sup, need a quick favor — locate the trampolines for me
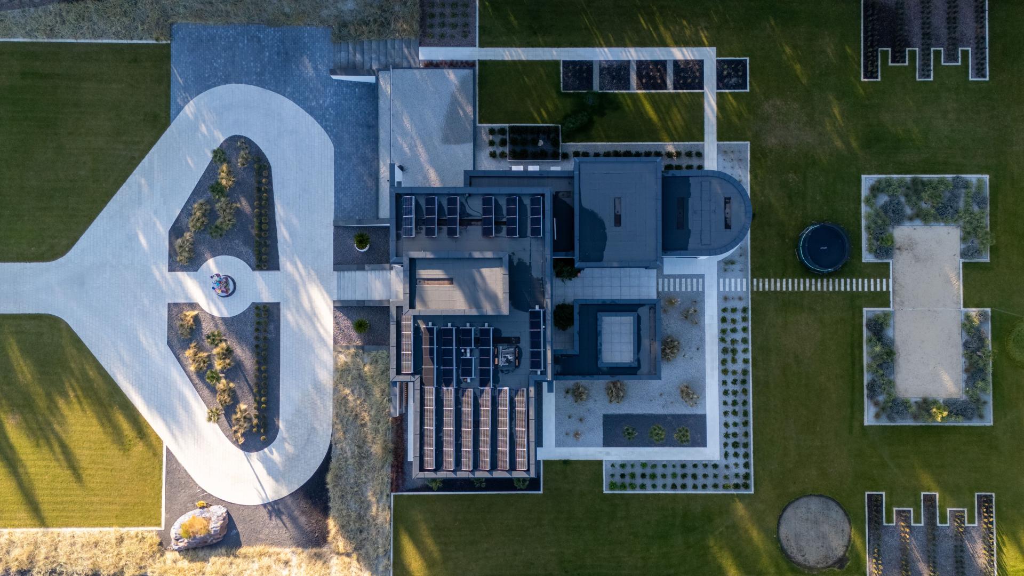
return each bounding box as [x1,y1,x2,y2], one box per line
[794,221,859,274]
